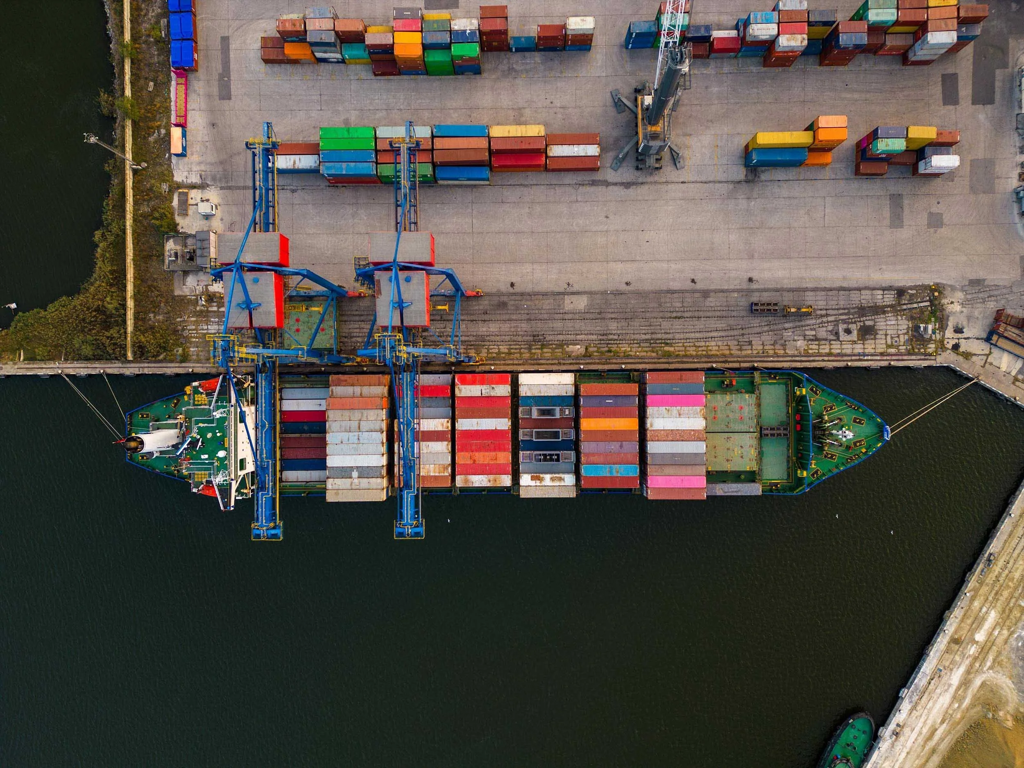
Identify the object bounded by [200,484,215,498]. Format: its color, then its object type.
red boat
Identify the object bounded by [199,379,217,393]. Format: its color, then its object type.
red boat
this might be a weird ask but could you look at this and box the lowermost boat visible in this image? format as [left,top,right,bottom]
[807,705,875,768]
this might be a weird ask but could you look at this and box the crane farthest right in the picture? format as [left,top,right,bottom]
[610,0,703,172]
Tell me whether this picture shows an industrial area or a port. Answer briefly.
port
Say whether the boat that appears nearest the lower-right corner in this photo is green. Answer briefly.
Yes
